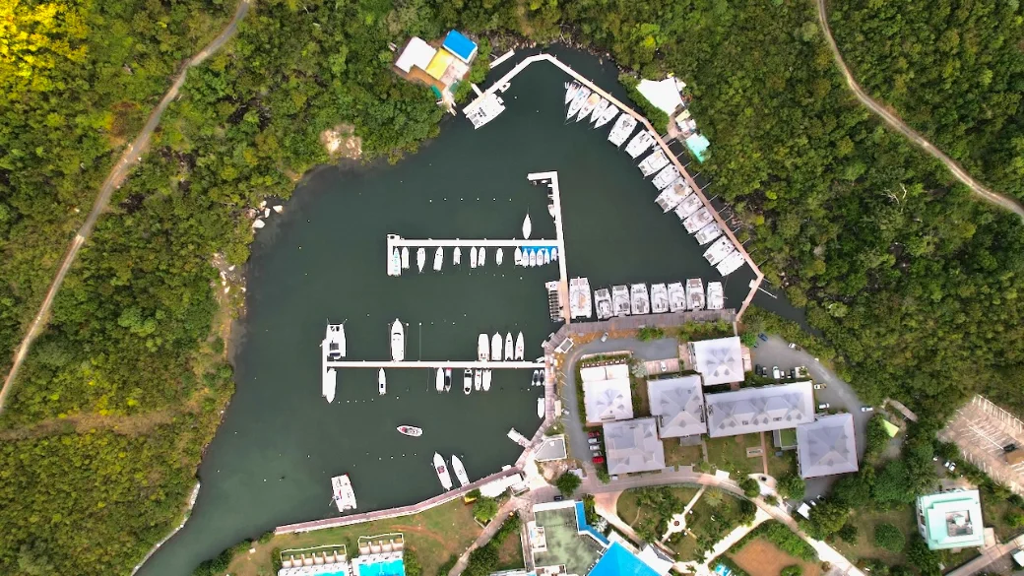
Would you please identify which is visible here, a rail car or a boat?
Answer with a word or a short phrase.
boat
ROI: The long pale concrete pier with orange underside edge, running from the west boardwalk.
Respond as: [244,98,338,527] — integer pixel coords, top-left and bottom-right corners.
[320,339,545,396]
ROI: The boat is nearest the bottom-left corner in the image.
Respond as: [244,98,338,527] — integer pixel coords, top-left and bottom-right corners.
[331,473,359,513]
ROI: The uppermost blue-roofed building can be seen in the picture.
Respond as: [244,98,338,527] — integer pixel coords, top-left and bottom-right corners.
[443,30,477,63]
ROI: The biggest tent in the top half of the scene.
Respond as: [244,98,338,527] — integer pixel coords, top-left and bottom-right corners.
[635,77,684,118]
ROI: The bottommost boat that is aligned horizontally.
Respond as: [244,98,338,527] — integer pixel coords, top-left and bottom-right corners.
[397,425,425,437]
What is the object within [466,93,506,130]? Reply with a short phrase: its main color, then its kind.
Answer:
white boat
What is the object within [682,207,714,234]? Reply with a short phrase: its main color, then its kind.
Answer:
white boat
